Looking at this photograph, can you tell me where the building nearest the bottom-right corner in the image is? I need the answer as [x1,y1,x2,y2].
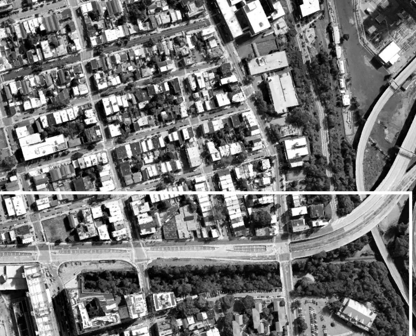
[333,297,377,331]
